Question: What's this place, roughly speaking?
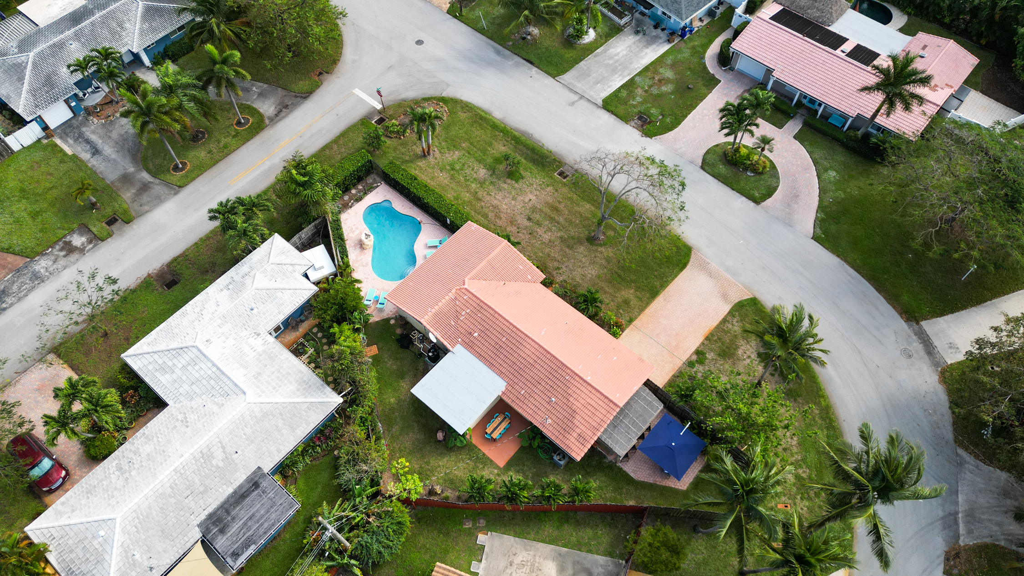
residential area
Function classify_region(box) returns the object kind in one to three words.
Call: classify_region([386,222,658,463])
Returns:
house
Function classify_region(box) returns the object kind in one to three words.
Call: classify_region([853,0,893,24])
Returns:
swimming pool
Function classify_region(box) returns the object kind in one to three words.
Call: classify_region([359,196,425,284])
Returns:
swimming pool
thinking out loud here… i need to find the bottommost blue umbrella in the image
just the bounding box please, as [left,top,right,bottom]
[638,413,705,481]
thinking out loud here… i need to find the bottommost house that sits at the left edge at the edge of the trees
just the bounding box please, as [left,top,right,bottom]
[21,232,344,576]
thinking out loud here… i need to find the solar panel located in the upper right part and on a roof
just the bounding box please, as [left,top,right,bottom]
[763,8,904,74]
